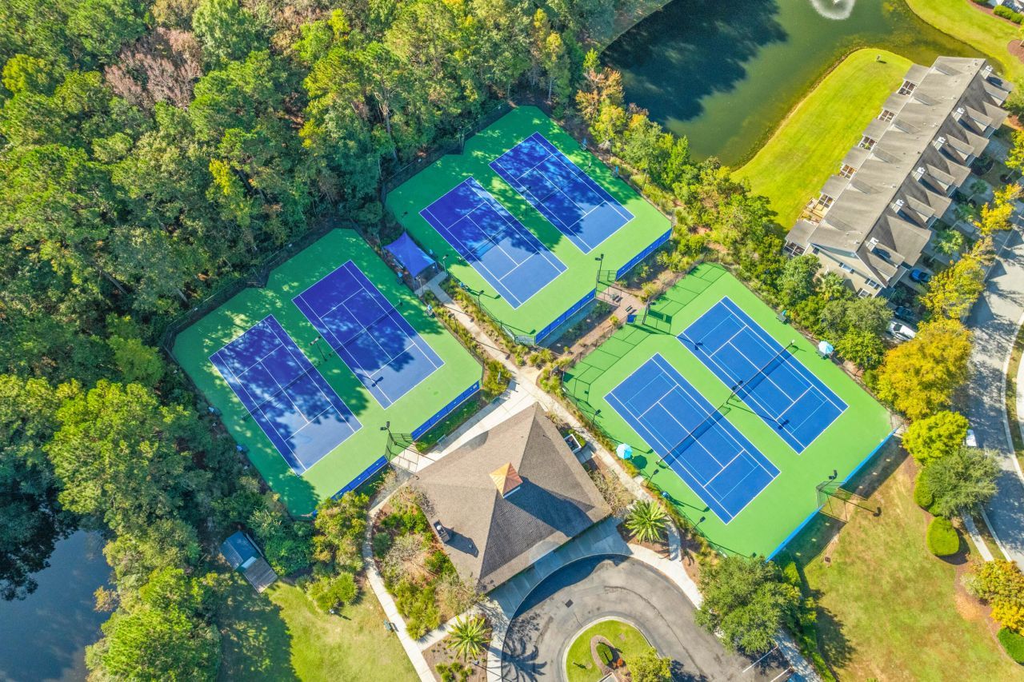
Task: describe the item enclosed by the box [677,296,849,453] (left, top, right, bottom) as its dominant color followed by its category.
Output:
blue tennis court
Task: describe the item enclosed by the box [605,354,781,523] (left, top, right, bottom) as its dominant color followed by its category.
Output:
blue tennis court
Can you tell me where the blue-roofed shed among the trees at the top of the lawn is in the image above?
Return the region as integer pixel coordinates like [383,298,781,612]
[220,531,258,571]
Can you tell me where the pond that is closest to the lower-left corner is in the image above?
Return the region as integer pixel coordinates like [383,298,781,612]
[0,490,116,682]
